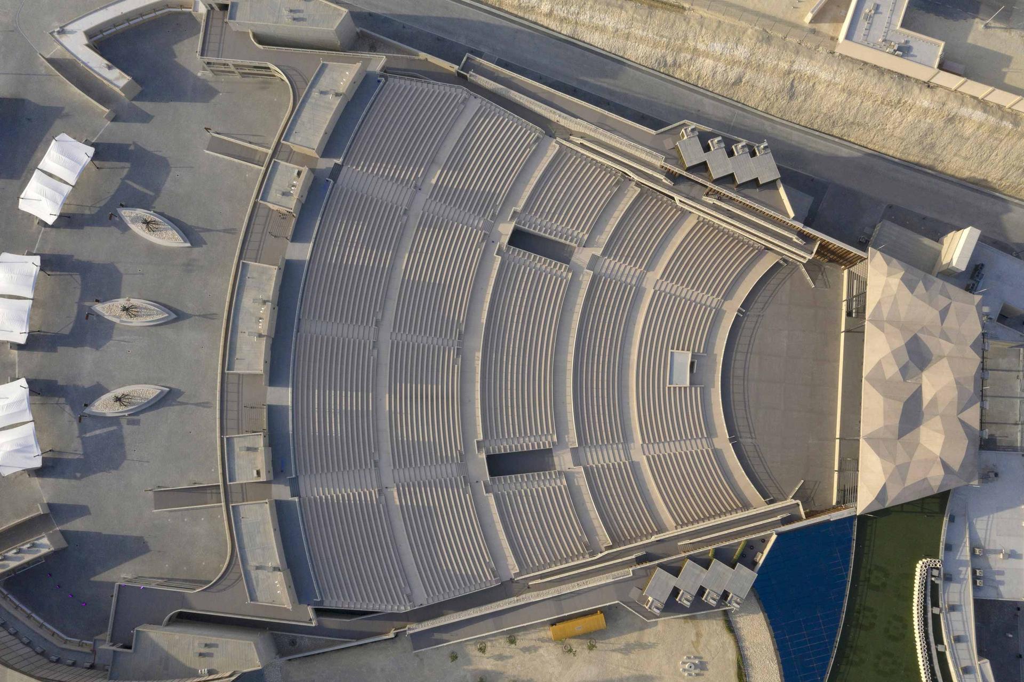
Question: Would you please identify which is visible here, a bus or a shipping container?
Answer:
shipping container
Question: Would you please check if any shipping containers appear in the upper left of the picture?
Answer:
No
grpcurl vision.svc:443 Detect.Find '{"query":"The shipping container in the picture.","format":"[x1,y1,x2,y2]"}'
[550,607,607,642]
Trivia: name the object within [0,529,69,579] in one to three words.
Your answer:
building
